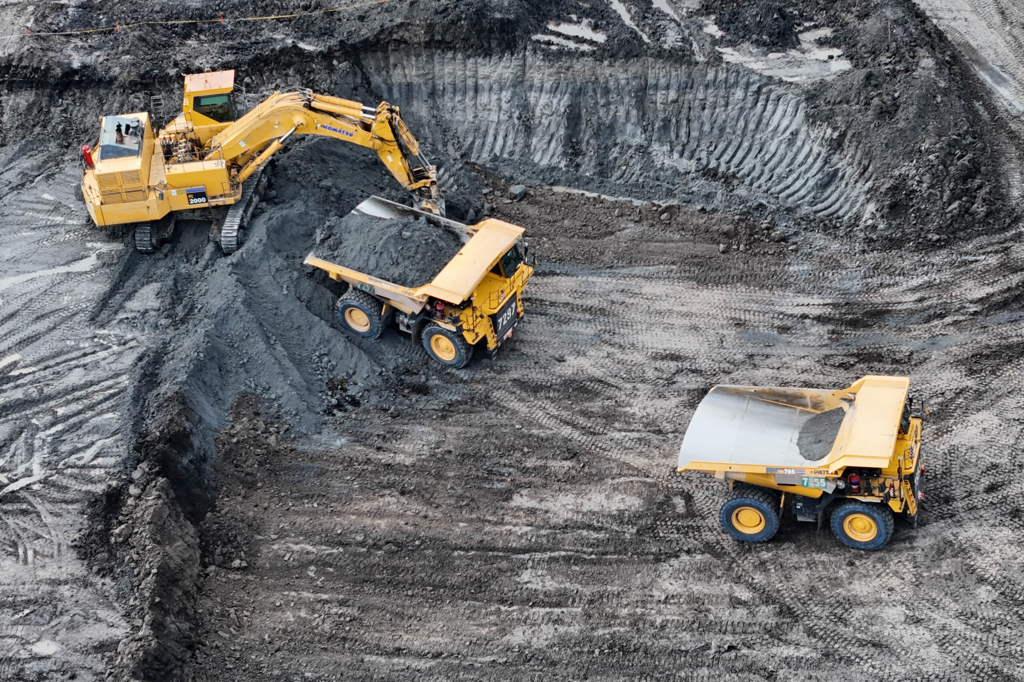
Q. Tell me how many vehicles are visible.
three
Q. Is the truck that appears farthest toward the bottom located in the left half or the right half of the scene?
right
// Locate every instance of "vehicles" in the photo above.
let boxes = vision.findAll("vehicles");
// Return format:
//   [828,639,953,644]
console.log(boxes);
[81,66,446,250]
[304,199,541,368]
[680,376,929,550]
